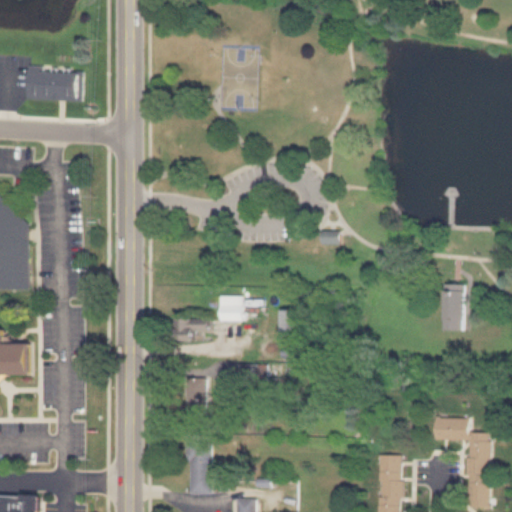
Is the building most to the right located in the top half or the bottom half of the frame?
bottom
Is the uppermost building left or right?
left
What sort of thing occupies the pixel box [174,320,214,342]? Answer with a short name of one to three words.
house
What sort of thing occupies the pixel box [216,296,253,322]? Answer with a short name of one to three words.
barn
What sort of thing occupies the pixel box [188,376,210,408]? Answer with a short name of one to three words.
building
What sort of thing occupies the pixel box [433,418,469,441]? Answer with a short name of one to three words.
building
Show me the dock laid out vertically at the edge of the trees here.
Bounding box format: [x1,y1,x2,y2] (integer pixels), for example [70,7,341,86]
[444,187,459,230]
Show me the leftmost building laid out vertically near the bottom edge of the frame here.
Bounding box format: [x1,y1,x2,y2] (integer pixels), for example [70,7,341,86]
[379,455,407,512]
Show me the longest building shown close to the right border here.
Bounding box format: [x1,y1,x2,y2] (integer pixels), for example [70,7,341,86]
[468,433,492,510]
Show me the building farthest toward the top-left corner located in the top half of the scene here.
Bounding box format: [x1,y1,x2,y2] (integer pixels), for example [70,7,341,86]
[22,65,89,102]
